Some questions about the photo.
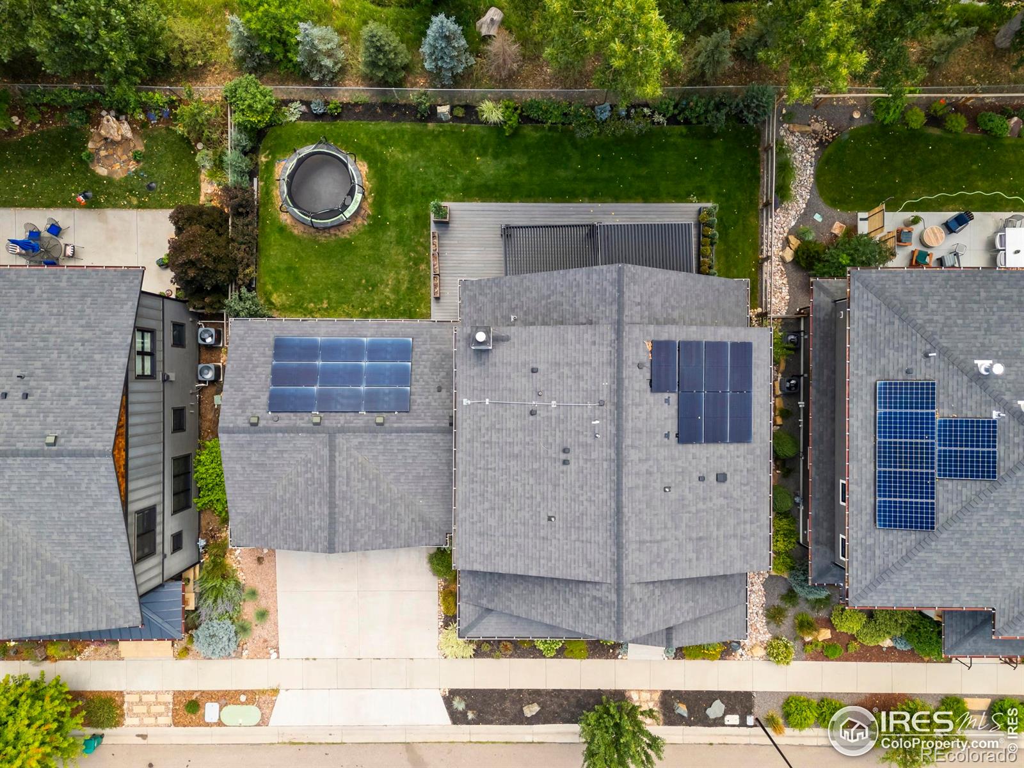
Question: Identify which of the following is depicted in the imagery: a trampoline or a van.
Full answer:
Visible in the photo is a trampoline.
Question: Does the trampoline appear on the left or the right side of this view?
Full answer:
You can find the trampoline on the left side of the picture.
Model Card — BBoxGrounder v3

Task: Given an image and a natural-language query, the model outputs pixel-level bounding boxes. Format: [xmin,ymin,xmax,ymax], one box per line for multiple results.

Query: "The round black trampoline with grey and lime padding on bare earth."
[278,136,365,233]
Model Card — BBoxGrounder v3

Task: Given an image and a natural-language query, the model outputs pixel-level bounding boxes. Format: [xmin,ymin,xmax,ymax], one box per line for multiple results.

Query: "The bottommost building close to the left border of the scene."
[0,264,204,642]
